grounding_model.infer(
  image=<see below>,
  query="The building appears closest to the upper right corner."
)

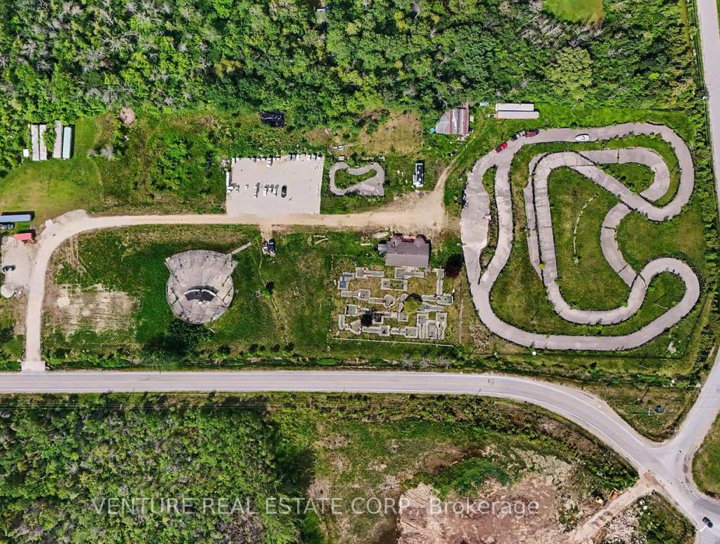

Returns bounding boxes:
[436,108,468,135]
